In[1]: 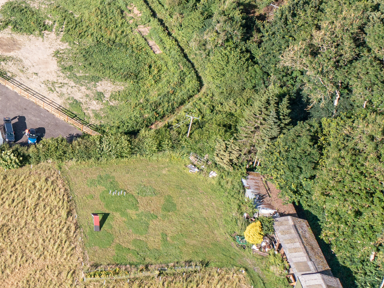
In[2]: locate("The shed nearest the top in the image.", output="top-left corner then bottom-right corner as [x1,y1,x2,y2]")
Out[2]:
[245,172,293,225]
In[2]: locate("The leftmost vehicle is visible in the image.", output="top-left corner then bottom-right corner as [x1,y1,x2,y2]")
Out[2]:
[4,114,17,142]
